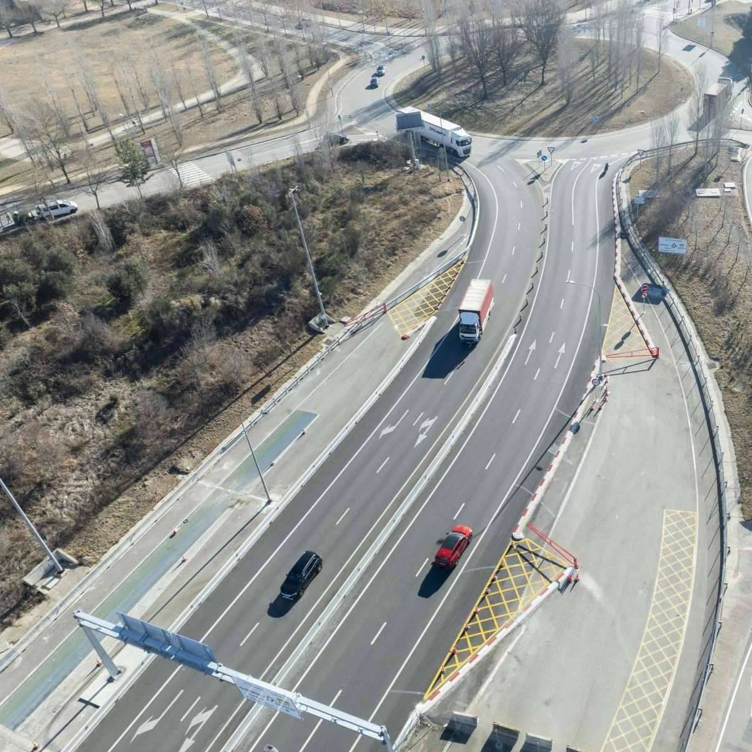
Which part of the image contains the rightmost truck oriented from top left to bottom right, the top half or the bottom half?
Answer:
top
